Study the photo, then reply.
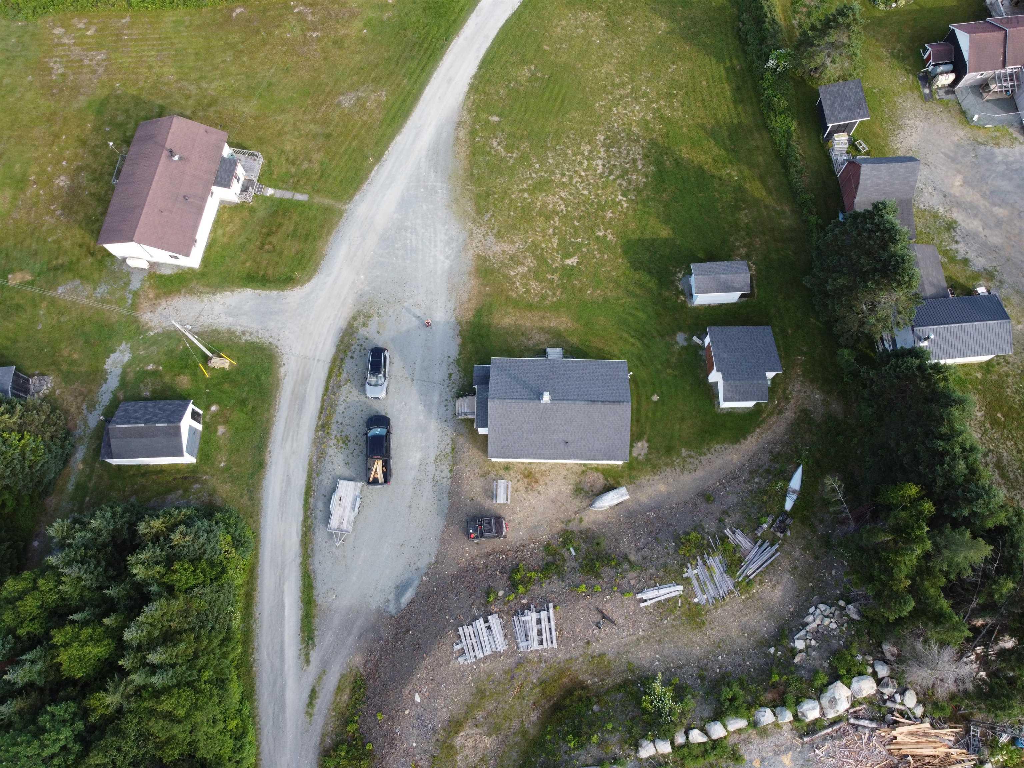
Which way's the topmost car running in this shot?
vertically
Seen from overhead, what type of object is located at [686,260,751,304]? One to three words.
shed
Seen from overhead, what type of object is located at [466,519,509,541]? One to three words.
vehicle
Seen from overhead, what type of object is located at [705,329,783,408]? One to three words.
building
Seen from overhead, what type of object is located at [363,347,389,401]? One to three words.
car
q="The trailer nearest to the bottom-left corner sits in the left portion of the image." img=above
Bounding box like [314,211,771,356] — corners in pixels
[327,479,362,550]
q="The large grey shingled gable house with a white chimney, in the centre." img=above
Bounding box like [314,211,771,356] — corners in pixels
[473,357,633,465]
